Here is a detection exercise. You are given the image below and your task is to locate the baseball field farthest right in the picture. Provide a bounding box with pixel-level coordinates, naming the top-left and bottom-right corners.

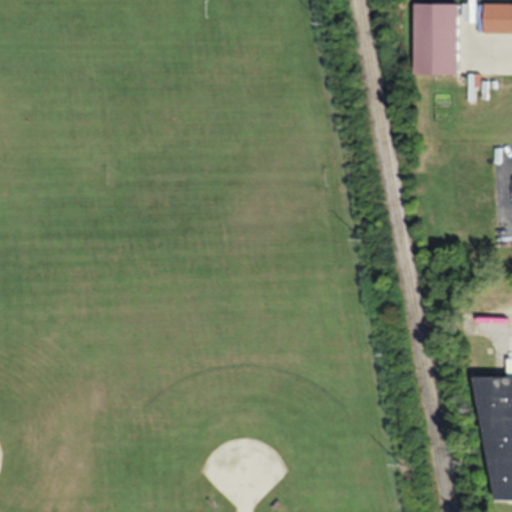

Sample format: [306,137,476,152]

[202,438,289,512]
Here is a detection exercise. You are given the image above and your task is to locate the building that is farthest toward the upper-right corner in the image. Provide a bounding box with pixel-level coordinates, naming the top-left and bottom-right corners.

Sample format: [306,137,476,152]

[482,4,512,34]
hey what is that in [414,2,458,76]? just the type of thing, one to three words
barn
